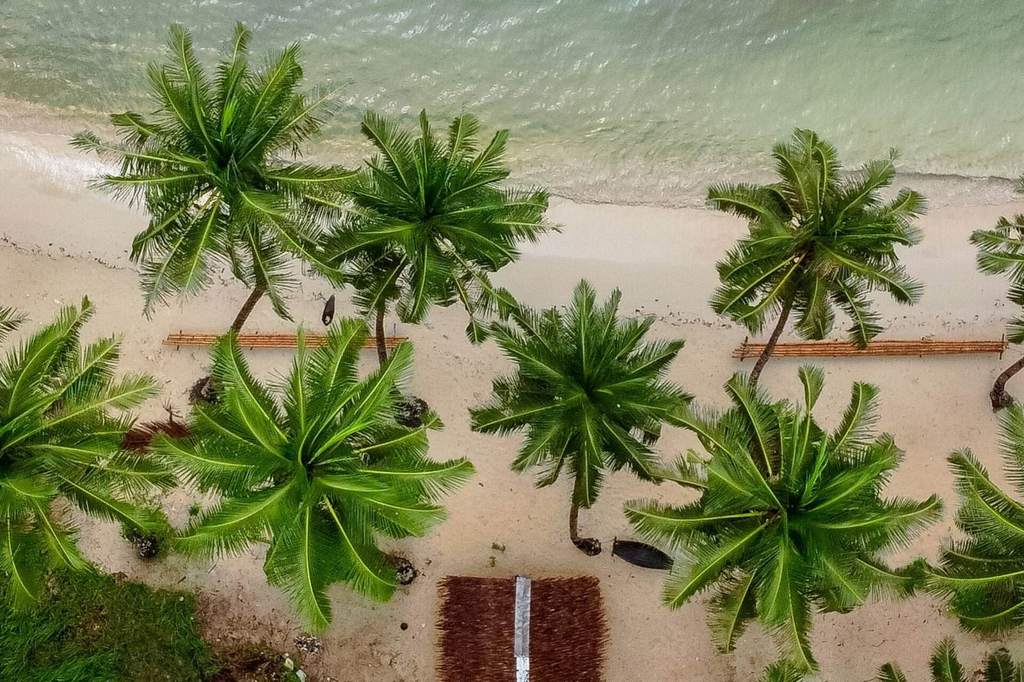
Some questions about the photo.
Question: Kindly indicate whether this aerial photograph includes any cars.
No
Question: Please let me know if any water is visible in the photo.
Yes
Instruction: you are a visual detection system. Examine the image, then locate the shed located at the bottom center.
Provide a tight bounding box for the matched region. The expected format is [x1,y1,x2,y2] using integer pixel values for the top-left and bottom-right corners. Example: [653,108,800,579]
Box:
[429,569,613,682]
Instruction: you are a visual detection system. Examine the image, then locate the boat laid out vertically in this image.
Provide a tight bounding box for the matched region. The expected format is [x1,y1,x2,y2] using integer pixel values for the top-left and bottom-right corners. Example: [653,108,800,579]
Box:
[319,290,333,323]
